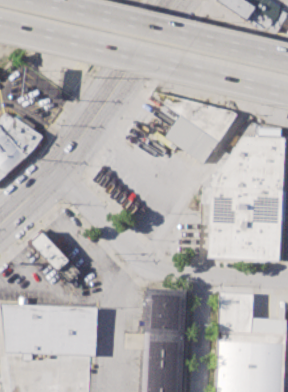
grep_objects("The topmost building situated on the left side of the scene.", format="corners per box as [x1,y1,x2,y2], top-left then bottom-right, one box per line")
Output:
[0,113,42,180]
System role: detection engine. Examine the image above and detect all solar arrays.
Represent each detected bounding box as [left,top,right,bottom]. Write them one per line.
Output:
[214,198,234,222]
[254,198,278,222]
